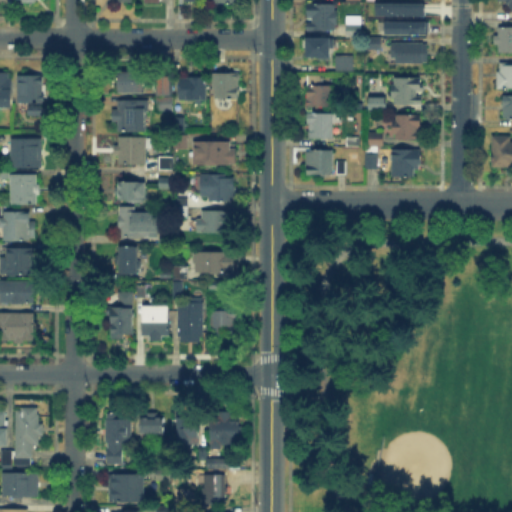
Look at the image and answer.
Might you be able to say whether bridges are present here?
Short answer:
No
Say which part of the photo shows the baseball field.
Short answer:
bottom right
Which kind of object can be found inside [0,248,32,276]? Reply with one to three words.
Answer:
house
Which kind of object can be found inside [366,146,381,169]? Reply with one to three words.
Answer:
building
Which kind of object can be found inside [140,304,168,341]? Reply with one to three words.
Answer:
house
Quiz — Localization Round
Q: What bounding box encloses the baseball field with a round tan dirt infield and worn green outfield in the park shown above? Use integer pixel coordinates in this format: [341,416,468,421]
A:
[347,252,512,512]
